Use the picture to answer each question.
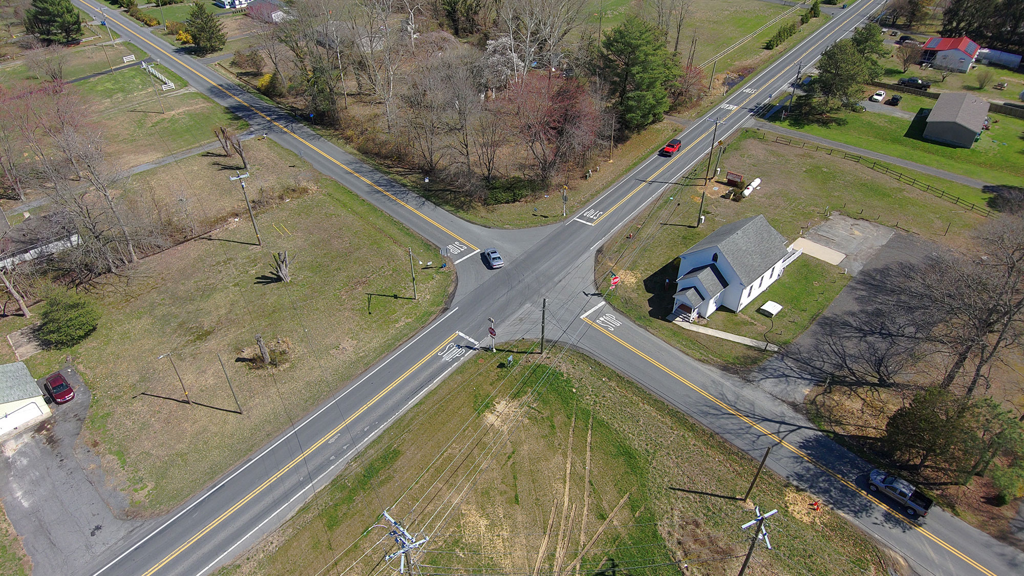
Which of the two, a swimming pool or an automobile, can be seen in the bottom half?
automobile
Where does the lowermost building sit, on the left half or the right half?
left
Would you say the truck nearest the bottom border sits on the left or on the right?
right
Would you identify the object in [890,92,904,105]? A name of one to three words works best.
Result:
vehicle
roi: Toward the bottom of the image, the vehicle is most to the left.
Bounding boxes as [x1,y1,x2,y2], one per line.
[41,371,73,403]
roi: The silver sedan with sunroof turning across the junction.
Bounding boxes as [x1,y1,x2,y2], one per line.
[481,248,505,270]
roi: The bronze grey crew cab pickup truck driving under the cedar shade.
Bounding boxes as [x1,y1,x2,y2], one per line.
[868,471,943,524]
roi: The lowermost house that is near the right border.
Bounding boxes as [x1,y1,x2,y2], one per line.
[923,92,990,147]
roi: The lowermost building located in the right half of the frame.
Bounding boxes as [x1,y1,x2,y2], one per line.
[666,214,809,324]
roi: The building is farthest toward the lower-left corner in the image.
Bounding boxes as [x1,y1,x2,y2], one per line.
[0,364,52,439]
